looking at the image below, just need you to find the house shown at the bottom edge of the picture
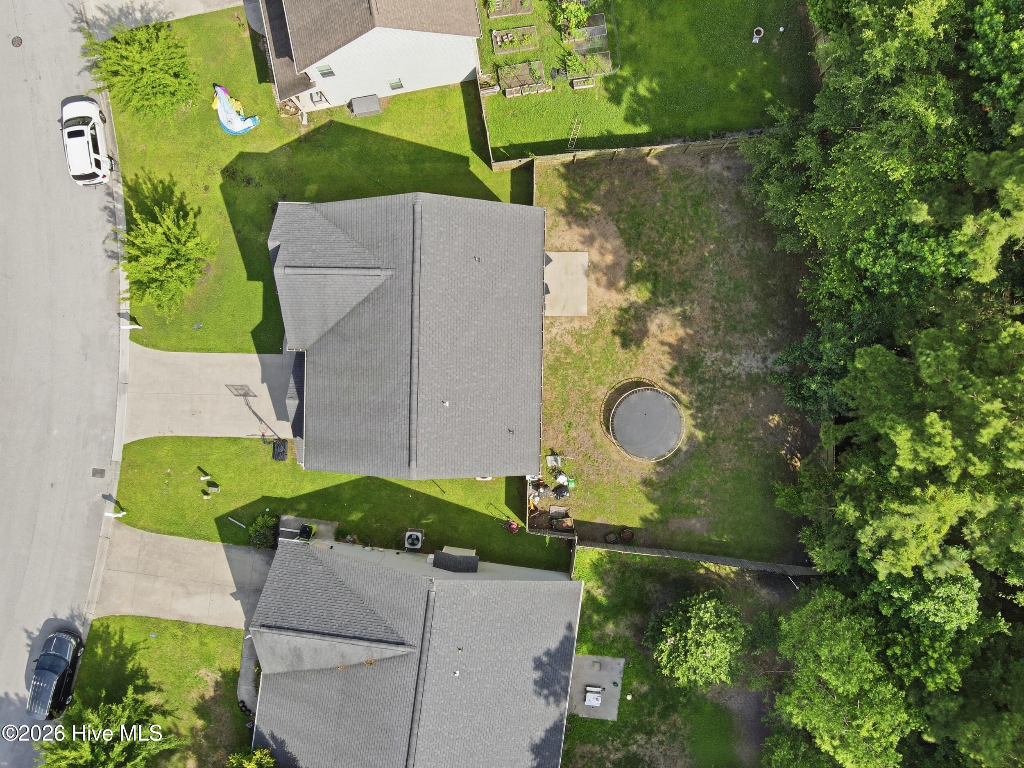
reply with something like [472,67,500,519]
[247,532,585,768]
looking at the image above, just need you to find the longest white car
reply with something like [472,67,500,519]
[59,100,114,191]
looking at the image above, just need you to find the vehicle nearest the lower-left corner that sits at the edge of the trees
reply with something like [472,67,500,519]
[23,625,89,724]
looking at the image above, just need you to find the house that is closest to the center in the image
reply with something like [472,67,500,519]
[267,192,547,481]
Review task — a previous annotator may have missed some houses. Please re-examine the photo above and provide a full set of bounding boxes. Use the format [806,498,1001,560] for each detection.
[267,192,547,481]
[247,532,585,768]
[257,0,484,120]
